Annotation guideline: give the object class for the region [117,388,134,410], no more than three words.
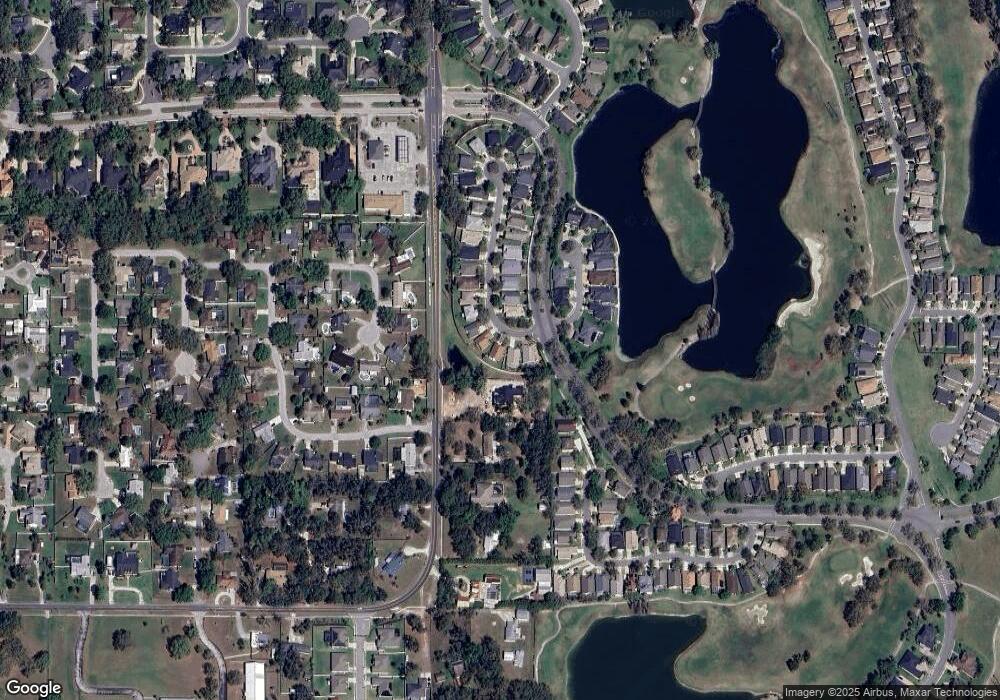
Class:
house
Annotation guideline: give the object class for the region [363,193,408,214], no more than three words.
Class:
building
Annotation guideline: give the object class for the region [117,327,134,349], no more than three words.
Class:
house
